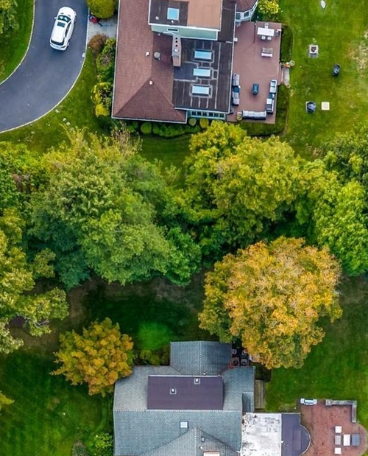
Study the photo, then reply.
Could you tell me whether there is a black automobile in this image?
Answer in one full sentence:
No, no black automobile is visible in the view.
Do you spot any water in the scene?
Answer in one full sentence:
No, no water is visible.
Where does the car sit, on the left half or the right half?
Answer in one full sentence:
The car appears in the left half of the scene.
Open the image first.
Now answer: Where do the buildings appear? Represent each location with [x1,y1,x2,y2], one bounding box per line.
[112,342,310,456]
[112,0,258,128]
